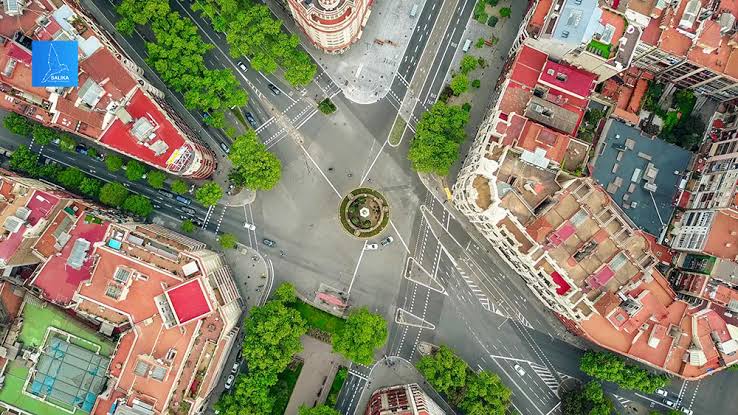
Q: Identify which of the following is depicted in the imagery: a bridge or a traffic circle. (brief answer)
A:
traffic circle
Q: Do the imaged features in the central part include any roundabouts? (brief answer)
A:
Yes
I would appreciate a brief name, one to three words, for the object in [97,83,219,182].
building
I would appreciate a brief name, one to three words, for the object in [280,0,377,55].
building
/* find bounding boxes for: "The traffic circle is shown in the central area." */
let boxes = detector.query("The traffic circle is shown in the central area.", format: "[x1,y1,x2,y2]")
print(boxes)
[339,187,390,238]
